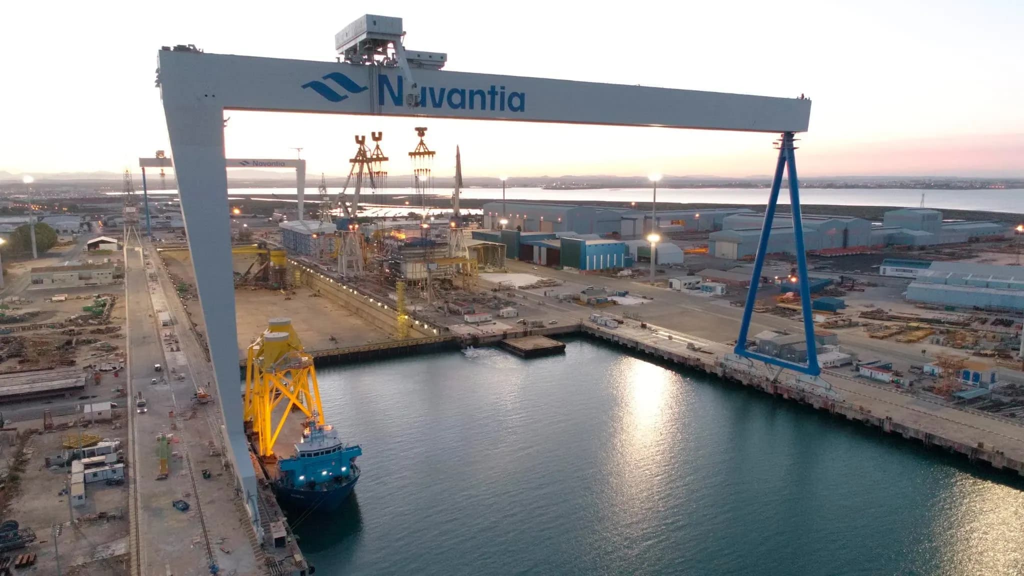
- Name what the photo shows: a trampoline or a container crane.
container crane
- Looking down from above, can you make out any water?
Yes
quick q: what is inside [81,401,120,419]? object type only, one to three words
shed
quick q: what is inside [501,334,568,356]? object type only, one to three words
pier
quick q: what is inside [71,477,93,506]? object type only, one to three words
building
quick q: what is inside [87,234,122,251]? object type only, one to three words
barn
